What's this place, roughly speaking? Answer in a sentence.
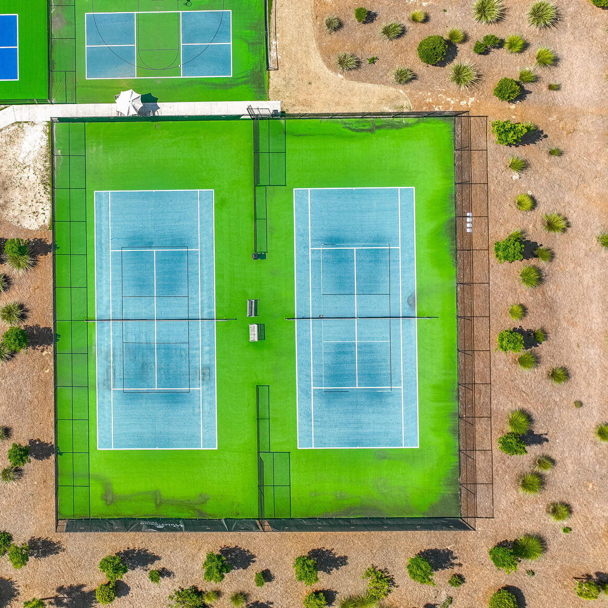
The picture captures a sports ground.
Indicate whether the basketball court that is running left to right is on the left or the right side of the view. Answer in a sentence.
The basketball court that is running left to right appears in the left half of the scene.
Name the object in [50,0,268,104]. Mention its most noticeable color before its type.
green basketball court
